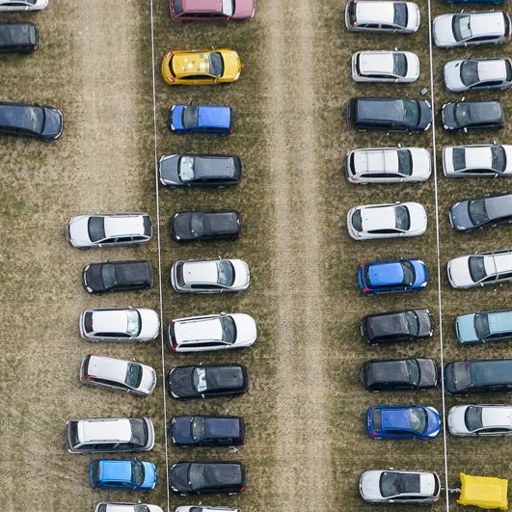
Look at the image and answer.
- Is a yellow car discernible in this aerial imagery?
Yes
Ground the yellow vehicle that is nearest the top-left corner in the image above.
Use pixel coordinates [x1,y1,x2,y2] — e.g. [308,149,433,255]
[162,48,241,85]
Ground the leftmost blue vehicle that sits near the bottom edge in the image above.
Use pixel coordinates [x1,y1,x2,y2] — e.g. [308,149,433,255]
[88,455,157,491]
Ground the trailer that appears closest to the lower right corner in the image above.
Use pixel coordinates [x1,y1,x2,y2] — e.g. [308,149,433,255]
[443,475,509,512]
